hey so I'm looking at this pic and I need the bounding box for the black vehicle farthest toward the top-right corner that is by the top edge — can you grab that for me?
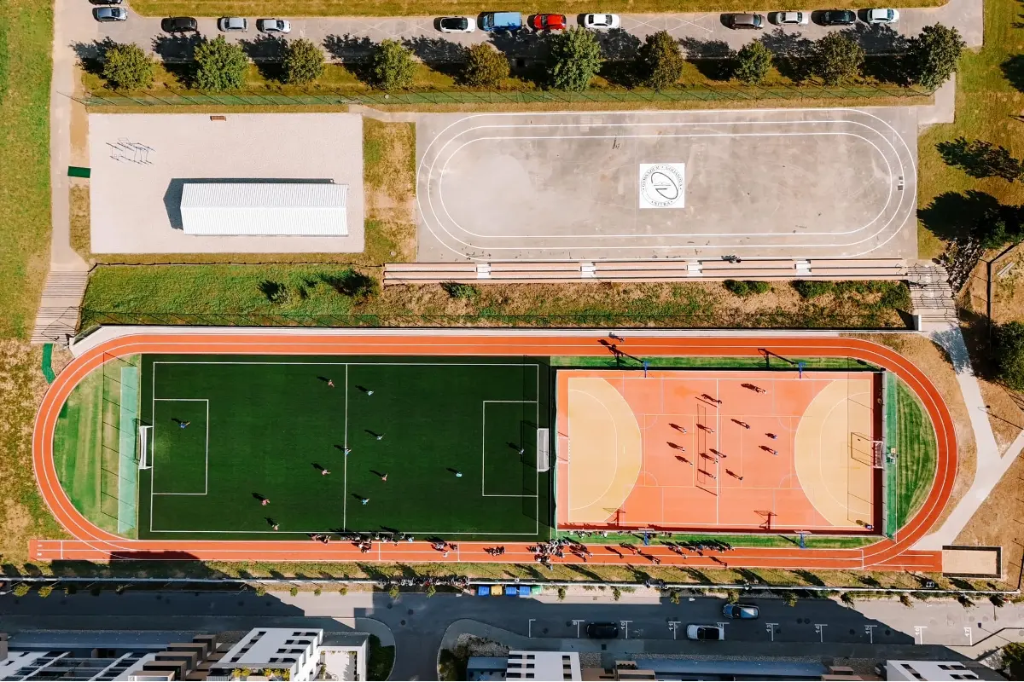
[821,7,857,27]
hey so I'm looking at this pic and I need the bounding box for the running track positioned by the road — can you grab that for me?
[29,333,958,572]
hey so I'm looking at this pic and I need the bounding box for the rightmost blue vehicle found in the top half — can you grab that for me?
[483,9,521,32]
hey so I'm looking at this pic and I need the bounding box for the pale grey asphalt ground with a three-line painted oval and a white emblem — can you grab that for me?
[416,106,918,262]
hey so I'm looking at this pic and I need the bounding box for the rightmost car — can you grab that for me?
[864,5,898,25]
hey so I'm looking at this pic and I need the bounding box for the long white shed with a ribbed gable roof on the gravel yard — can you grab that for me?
[180,182,354,239]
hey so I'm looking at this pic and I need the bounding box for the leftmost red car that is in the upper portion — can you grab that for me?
[533,11,565,31]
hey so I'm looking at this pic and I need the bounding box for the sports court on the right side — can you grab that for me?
[557,370,882,534]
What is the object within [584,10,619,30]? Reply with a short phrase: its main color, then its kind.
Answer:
white car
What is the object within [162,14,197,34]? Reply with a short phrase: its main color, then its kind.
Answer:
black car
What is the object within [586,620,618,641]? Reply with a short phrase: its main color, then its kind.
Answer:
black car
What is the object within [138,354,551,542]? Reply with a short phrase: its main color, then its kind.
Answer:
green soccer field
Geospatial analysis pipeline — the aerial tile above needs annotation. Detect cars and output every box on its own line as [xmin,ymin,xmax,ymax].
[440,14,474,34]
[162,14,197,34]
[586,620,618,641]
[686,622,724,643]
[774,7,807,27]
[864,5,898,25]
[821,7,857,27]
[218,14,249,32]
[730,10,763,30]
[533,11,565,31]
[96,4,130,23]
[584,10,619,30]
[259,16,291,34]
[722,602,759,622]
[91,0,126,10]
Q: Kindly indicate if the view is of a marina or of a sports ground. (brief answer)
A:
sports ground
